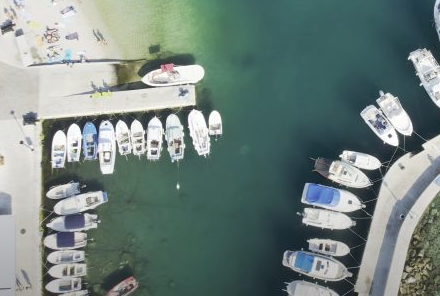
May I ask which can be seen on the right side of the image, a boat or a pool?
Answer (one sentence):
You can see a boat on the right side of the image.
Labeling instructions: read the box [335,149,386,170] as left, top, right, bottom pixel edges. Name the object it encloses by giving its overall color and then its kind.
white boat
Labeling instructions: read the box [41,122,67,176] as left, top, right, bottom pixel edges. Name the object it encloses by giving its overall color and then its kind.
white boat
